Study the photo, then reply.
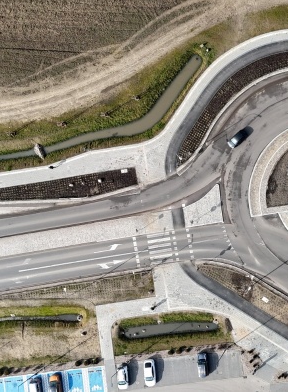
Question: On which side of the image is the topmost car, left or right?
right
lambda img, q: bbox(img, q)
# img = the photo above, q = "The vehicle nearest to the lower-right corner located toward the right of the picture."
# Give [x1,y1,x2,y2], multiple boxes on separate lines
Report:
[197,351,209,377]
